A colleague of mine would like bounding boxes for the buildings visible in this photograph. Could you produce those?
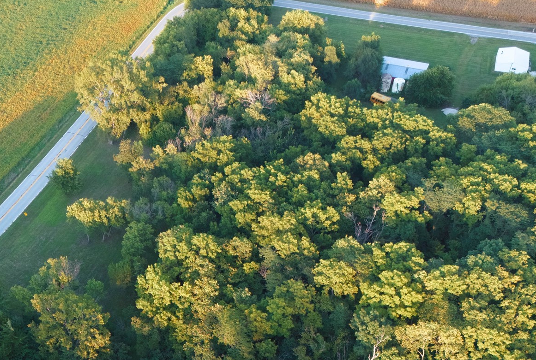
[375,56,431,88]
[496,47,532,76]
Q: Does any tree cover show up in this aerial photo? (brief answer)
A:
Yes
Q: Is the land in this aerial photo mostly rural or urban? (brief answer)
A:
rural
